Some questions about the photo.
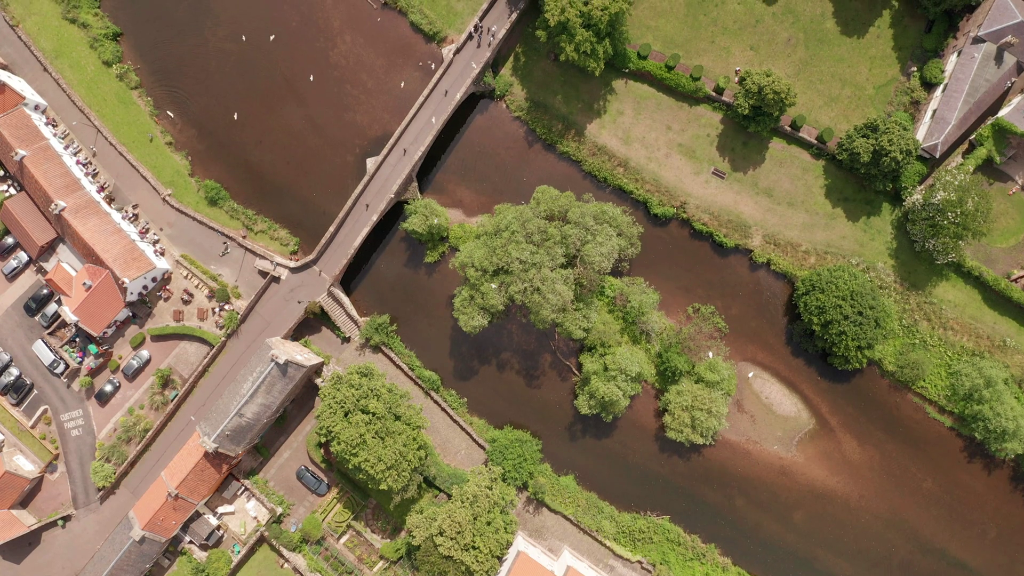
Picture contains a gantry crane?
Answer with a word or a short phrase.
No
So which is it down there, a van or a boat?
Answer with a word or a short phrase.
van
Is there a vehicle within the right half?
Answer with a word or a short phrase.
No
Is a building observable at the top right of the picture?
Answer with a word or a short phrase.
Yes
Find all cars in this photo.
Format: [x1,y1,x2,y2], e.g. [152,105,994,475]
[37,297,60,328]
[22,282,59,318]
[0,342,20,375]
[120,346,154,382]
[0,250,35,282]
[0,233,19,259]
[294,465,332,496]
[0,364,28,398]
[91,377,124,408]
[6,374,38,406]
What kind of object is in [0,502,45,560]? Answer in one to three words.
house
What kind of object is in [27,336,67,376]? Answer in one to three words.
van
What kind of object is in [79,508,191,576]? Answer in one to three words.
house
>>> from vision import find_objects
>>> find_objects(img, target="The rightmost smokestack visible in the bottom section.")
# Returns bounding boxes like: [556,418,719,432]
[264,350,288,369]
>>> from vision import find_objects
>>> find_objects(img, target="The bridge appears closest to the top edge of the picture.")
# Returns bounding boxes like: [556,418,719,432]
[309,0,533,272]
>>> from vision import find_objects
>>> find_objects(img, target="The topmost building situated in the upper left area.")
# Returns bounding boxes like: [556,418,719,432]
[0,69,47,114]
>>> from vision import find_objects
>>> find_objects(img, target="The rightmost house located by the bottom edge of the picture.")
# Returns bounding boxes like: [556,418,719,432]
[556,548,605,576]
